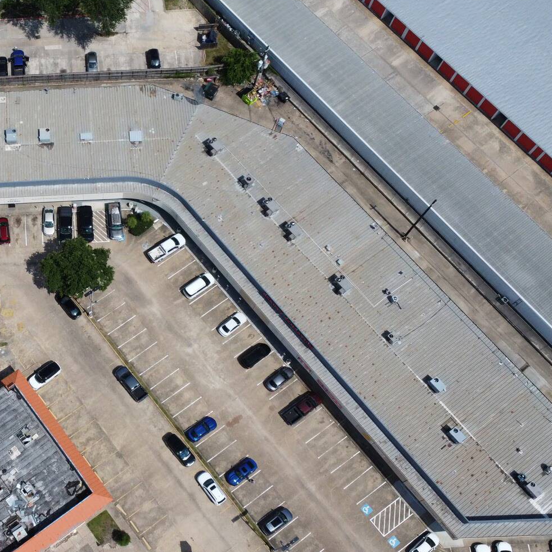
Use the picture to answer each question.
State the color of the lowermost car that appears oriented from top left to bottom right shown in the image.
white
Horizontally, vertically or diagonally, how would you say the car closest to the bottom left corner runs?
diagonally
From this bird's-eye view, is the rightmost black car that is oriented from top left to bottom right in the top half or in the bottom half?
bottom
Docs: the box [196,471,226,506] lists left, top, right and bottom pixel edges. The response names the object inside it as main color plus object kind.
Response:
white car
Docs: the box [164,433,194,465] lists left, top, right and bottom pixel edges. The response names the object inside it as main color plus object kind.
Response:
black car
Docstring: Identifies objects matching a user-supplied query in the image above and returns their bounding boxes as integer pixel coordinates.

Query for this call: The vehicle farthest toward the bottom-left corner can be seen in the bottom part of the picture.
[29,362,62,389]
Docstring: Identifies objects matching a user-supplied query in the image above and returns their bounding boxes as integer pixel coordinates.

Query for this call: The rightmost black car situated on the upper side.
[146,48,160,69]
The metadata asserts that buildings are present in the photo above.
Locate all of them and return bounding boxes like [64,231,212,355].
[206,0,552,346]
[0,84,552,541]
[353,0,552,182]
[0,371,112,552]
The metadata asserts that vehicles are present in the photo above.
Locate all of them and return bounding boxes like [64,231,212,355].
[147,234,185,262]
[263,367,295,391]
[8,49,28,79]
[0,218,10,245]
[196,471,226,506]
[57,293,81,319]
[79,208,93,239]
[281,393,322,424]
[57,207,72,242]
[494,543,512,552]
[181,273,214,298]
[29,362,62,389]
[216,313,246,336]
[0,57,7,76]
[473,545,489,552]
[406,532,440,552]
[146,48,160,69]
[226,458,257,486]
[257,507,292,535]
[85,52,97,72]
[112,365,150,404]
[237,344,270,368]
[42,208,54,236]
[107,203,123,238]
[185,417,216,442]
[164,433,194,465]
